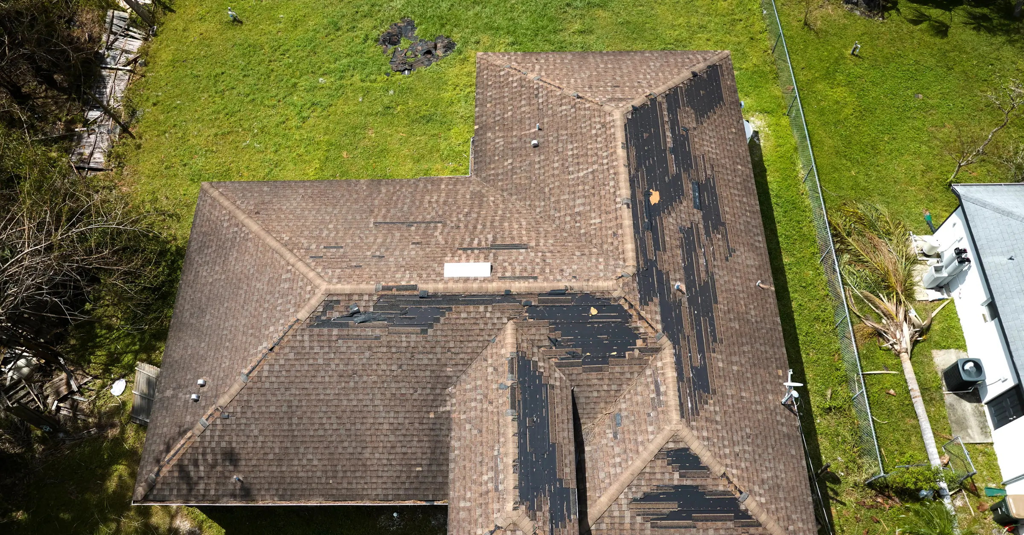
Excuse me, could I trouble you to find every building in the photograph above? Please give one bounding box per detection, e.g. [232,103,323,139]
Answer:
[133,48,816,535]
[931,183,1024,535]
